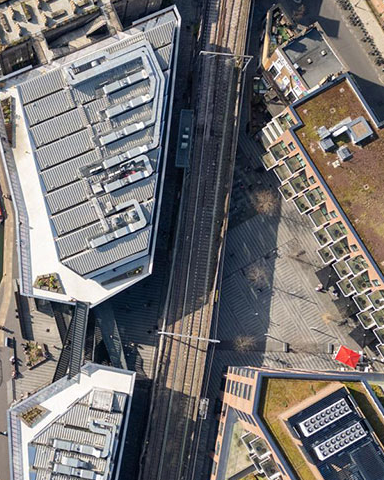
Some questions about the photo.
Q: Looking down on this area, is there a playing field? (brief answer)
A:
No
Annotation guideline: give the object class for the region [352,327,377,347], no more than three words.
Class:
umbrella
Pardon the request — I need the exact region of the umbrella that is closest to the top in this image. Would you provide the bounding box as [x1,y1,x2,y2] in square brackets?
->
[314,266,339,289]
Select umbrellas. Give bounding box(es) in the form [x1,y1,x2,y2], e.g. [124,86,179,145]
[335,295,359,317]
[352,327,377,347]
[335,346,360,368]
[314,266,339,289]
